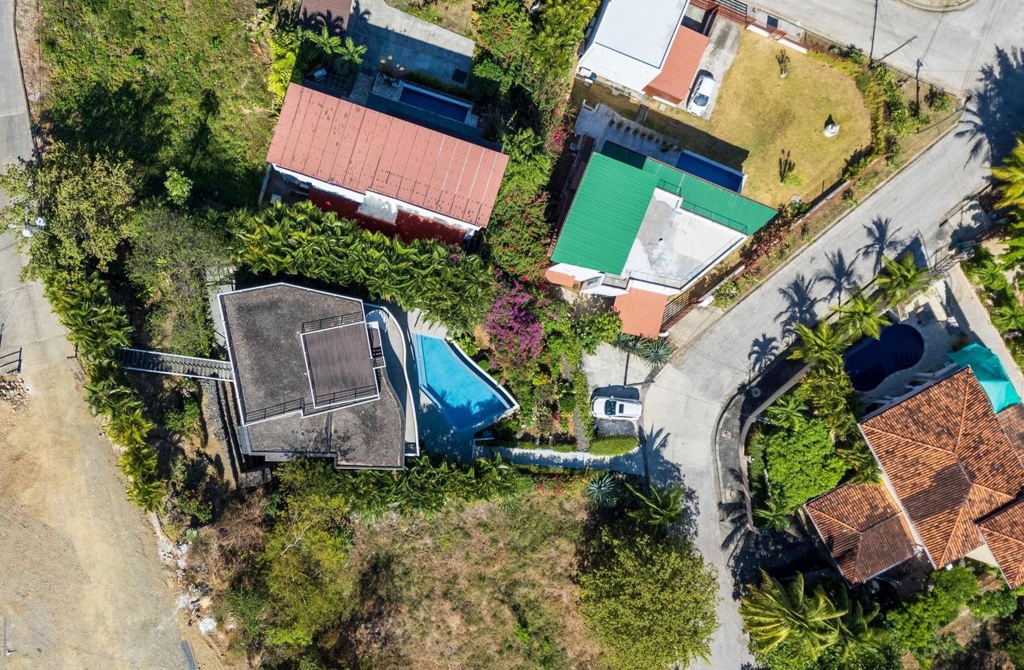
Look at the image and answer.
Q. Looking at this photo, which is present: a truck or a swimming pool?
swimming pool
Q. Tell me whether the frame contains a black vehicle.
No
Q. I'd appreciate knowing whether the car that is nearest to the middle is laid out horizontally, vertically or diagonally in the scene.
horizontally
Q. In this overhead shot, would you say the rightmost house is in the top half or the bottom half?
bottom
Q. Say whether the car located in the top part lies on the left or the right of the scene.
right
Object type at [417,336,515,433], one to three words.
swimming pool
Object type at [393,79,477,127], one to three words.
swimming pool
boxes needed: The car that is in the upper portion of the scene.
[686,72,715,117]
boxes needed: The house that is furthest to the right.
[800,365,1024,596]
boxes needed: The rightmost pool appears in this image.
[845,323,924,390]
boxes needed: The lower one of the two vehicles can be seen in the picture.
[591,396,641,420]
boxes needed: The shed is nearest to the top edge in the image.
[299,0,353,38]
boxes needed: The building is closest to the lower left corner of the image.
[218,283,422,470]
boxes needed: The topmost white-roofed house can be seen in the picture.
[577,0,718,109]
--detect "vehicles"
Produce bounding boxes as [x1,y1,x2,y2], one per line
[591,396,641,420]
[686,72,715,117]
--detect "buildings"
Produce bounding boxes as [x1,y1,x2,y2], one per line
[299,0,353,38]
[800,365,1024,596]
[218,283,422,470]
[266,83,509,263]
[577,0,718,109]
[545,130,779,339]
